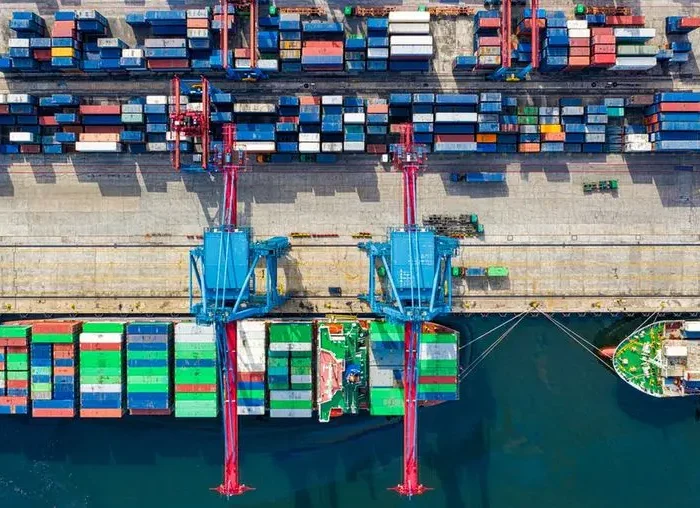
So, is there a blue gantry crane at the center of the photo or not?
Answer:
Yes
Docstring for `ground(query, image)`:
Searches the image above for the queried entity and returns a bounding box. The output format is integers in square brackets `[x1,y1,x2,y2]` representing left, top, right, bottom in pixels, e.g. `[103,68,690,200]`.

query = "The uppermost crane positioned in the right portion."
[487,0,540,82]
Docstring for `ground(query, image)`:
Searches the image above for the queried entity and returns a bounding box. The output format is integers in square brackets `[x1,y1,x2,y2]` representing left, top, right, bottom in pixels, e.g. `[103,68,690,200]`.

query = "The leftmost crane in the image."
[170,76,222,176]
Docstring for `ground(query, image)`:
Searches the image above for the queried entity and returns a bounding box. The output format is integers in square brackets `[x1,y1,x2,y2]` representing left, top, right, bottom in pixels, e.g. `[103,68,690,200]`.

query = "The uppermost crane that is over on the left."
[218,0,267,83]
